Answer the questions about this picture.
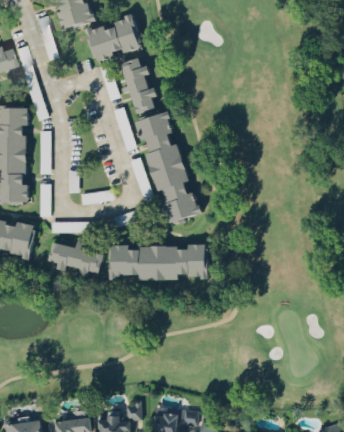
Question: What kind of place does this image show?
golf course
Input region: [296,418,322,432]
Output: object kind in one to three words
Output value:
swimming pool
